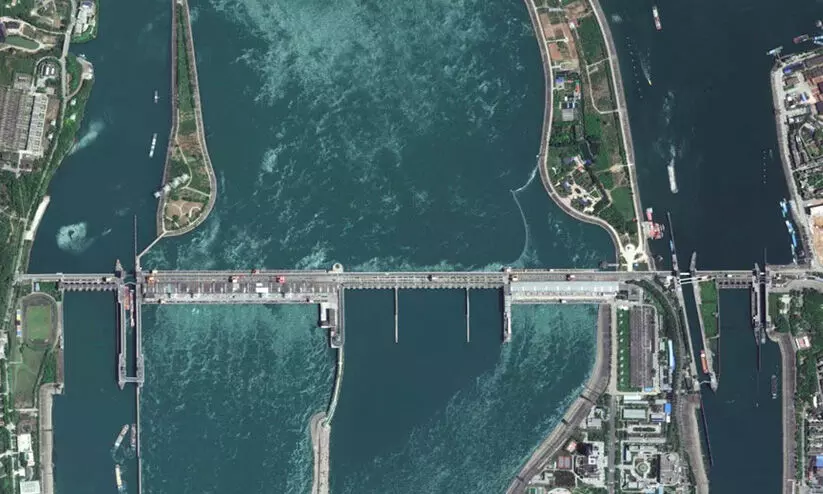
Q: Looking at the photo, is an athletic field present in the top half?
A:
No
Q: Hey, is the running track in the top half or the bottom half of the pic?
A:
bottom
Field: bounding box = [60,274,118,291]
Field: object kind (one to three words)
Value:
dam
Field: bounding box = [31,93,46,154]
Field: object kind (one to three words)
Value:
building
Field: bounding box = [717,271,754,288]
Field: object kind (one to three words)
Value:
dam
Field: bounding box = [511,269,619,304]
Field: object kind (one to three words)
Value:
building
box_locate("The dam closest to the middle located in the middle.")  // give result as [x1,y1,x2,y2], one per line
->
[341,271,506,289]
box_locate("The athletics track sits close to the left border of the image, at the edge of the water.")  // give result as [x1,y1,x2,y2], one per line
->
[21,291,58,356]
